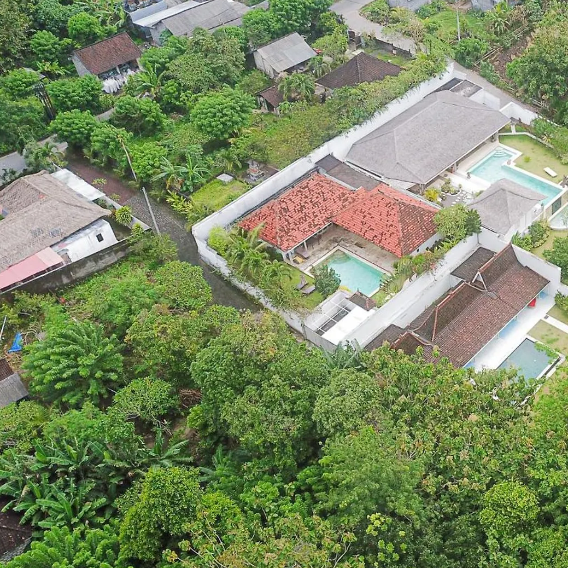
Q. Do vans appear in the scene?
No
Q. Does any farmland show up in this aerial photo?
No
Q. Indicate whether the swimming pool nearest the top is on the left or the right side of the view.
right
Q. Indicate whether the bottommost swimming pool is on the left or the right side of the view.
right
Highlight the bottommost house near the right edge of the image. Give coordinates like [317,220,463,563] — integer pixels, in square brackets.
[362,235,552,391]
